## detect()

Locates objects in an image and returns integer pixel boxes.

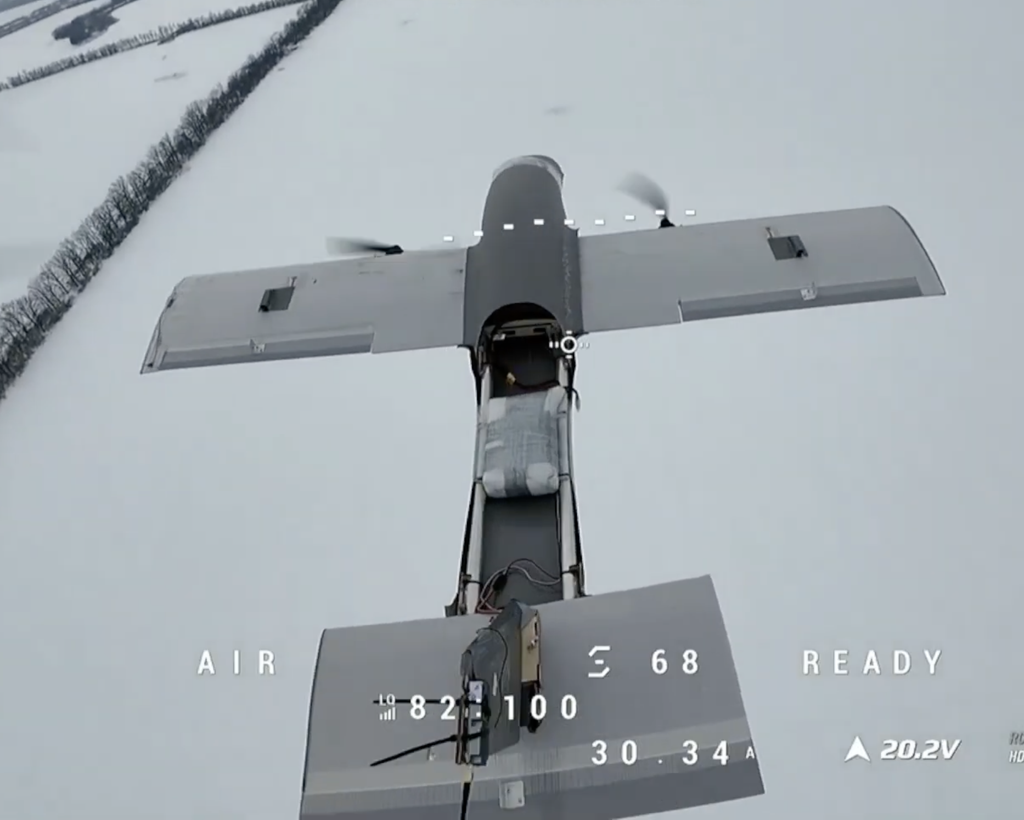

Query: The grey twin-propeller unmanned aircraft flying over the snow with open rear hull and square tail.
[140,152,948,820]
